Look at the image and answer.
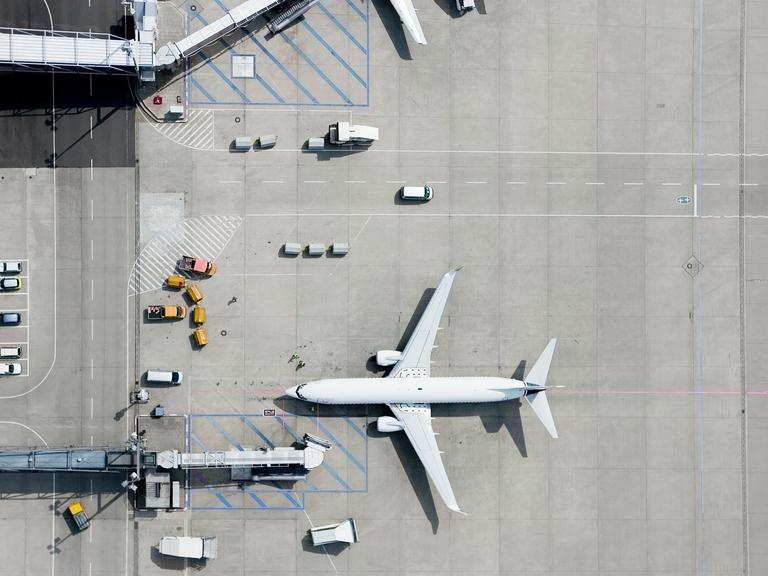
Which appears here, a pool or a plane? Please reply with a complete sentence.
The image shows a plane.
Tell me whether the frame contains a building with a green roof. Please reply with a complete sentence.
No, the photo shows no building with a green roof.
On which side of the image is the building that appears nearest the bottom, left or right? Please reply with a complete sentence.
The building that appears nearest the bottom sits on the left side.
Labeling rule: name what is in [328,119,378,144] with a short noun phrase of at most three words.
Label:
truck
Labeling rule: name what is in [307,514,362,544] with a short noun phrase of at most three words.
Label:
truck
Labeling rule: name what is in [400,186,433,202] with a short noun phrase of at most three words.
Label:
vehicle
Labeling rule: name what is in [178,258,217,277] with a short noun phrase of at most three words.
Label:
vehicle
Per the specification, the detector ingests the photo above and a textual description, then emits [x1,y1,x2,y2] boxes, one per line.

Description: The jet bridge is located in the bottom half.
[158,434,332,488]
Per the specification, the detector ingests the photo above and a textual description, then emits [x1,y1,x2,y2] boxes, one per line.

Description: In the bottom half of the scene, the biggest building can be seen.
[146,473,171,508]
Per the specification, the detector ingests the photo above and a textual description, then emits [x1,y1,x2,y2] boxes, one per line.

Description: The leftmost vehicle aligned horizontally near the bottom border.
[160,536,219,564]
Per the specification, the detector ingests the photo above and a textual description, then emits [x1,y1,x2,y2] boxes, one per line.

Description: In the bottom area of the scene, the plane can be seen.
[286,265,566,514]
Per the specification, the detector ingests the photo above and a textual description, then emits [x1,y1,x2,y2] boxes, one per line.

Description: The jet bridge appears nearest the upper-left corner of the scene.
[155,0,316,75]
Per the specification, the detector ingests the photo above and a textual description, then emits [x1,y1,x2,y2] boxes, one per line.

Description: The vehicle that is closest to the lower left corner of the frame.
[66,502,92,534]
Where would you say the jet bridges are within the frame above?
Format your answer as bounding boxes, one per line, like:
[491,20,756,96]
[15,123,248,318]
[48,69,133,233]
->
[158,434,332,488]
[155,0,316,75]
